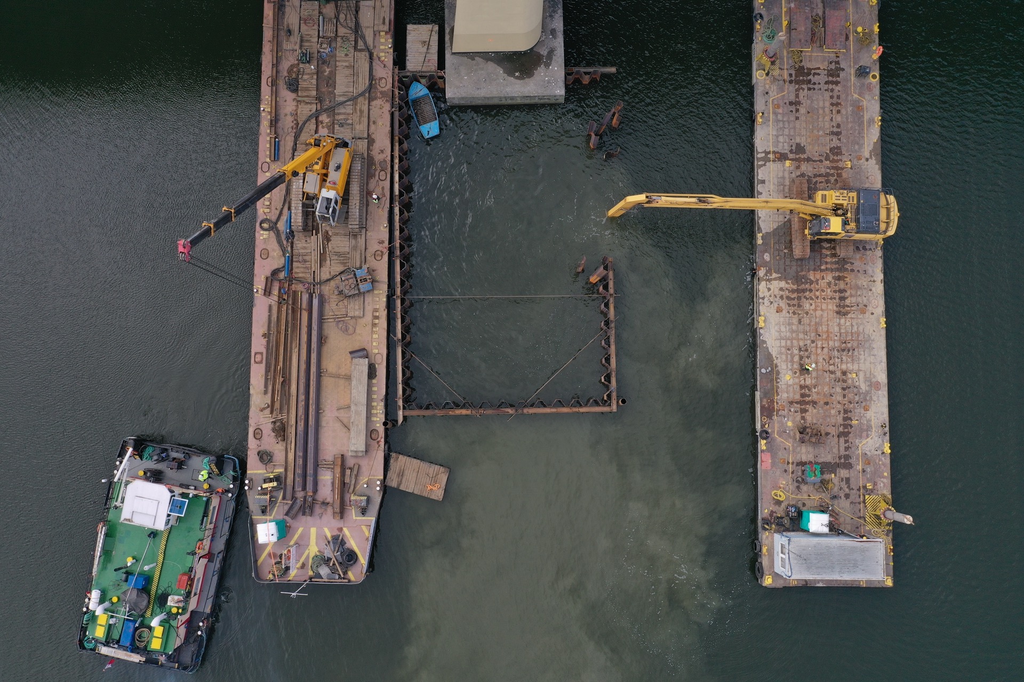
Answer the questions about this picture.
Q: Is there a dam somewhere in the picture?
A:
No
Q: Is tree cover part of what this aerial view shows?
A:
No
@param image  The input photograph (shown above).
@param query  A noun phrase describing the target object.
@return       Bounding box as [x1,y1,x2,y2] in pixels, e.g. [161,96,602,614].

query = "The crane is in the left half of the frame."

[176,133,366,312]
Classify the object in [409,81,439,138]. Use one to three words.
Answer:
boat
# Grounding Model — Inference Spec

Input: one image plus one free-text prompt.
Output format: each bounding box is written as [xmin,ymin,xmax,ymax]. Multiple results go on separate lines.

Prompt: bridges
[445,0,564,104]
